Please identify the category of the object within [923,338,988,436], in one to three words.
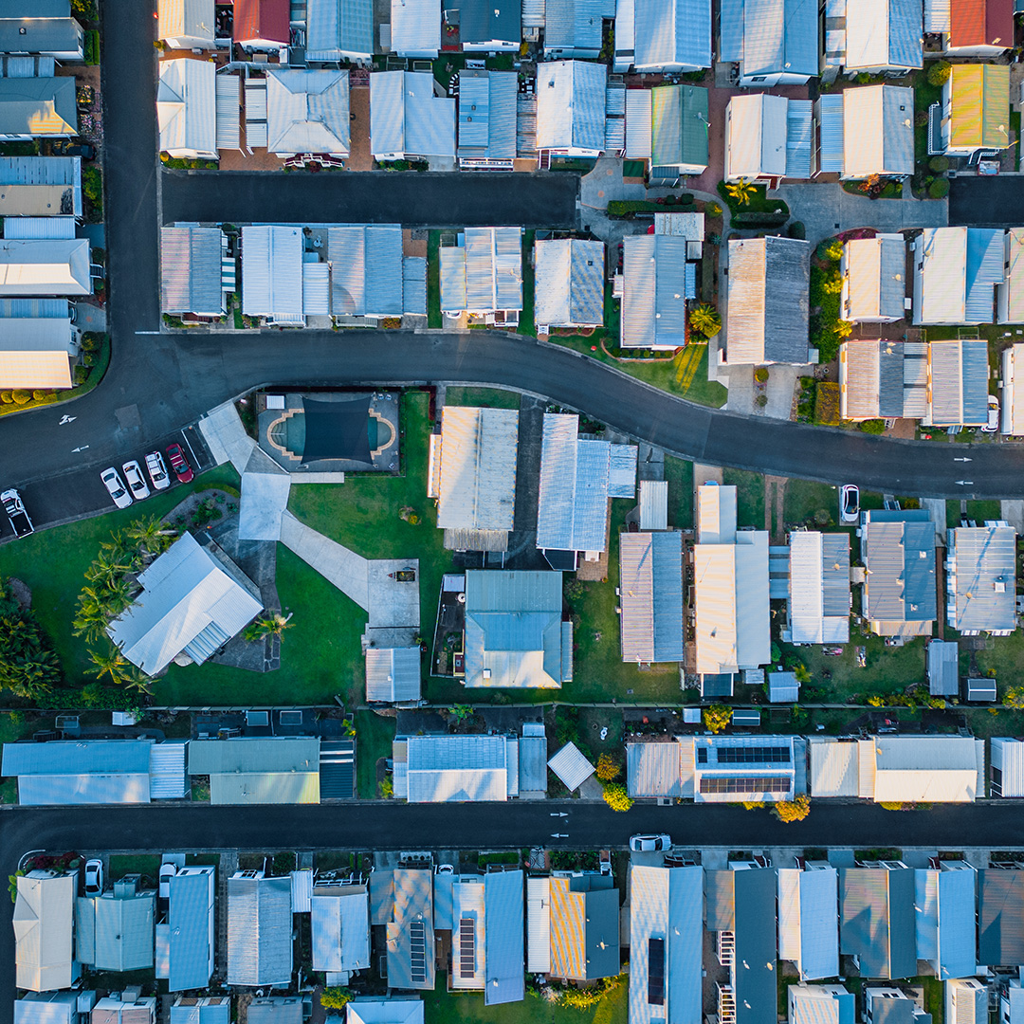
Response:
house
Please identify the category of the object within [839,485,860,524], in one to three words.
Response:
car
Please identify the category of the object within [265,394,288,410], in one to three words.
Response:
shed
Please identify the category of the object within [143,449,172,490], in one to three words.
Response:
car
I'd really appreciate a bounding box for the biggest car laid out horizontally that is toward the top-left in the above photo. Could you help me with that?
[63,140,105,161]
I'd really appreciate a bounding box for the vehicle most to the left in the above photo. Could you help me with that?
[2,489,35,538]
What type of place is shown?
residential area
